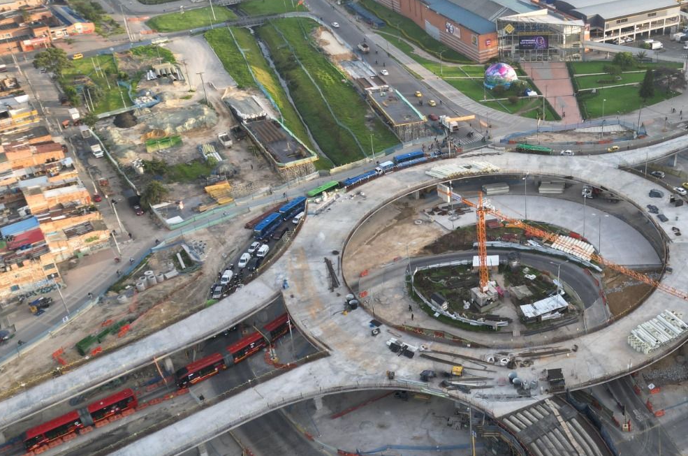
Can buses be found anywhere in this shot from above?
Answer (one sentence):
Yes, there's a bus here.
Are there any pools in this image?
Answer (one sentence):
No, there's no pool here.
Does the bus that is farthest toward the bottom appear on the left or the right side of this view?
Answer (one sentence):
The bus that is farthest toward the bottom is on the left side of the image.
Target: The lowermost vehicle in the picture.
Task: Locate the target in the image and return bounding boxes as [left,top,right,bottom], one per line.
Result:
[23,395,138,454]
